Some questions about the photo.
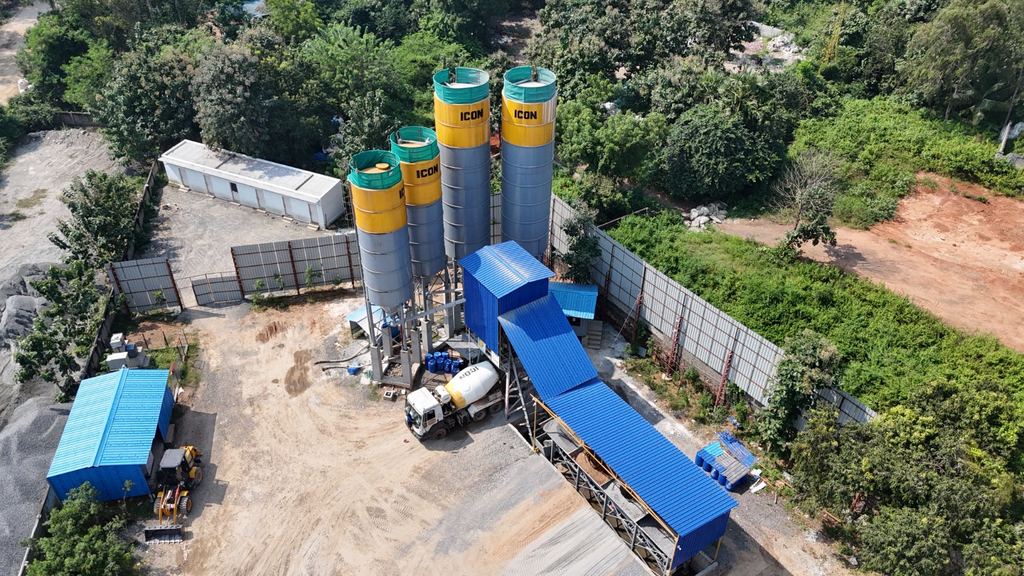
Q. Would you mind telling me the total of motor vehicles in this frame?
2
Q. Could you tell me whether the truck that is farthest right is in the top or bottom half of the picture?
bottom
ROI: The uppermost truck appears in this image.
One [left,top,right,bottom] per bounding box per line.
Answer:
[404,366,513,445]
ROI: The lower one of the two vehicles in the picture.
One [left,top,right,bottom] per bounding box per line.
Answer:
[145,449,207,544]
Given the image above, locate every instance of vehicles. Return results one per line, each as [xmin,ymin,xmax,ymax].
[404,366,513,445]
[145,449,207,544]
